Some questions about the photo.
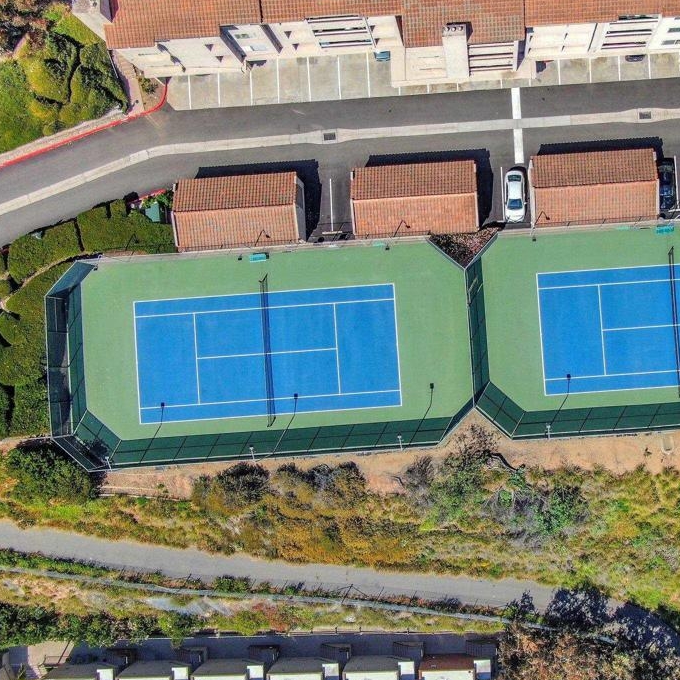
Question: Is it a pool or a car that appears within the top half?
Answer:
car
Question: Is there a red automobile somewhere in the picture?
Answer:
No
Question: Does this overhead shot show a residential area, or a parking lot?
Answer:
residential area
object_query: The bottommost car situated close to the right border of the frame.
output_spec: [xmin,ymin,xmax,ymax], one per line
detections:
[658,159,680,211]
